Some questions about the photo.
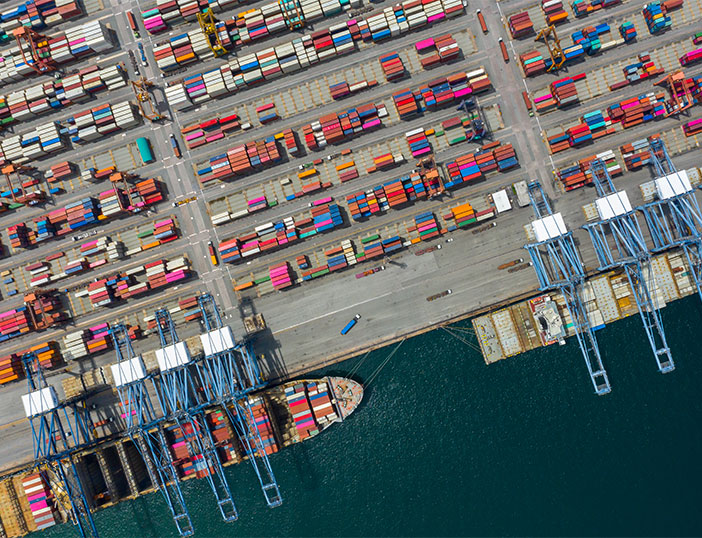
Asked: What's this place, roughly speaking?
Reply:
port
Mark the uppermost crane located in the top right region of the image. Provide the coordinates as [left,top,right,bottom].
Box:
[531,21,568,74]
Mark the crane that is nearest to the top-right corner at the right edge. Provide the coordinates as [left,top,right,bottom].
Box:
[653,68,694,117]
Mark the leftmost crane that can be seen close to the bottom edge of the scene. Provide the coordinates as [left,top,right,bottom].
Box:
[21,353,105,538]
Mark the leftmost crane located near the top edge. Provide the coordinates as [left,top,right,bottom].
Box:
[10,27,54,77]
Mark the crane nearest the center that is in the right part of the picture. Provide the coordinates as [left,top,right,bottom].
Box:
[414,153,446,199]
